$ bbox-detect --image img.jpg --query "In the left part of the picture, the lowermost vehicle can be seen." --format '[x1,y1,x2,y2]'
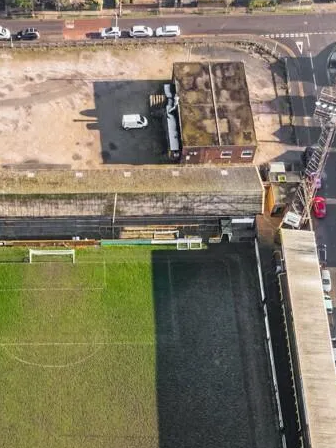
[122,115,147,129]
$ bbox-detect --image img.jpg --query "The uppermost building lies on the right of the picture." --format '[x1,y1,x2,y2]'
[172,62,257,164]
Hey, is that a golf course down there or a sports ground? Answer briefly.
sports ground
